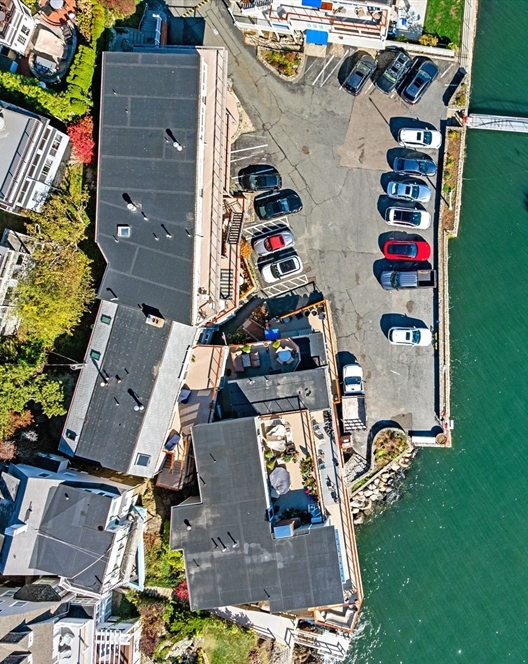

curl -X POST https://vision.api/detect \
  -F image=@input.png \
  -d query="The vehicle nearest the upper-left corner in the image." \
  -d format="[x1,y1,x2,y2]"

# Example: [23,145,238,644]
[238,170,285,193]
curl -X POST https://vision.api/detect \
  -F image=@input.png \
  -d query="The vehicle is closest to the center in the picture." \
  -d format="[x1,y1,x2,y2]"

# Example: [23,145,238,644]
[260,256,304,282]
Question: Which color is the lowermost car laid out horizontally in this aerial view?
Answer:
white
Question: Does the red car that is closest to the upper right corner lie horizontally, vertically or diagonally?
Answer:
horizontally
